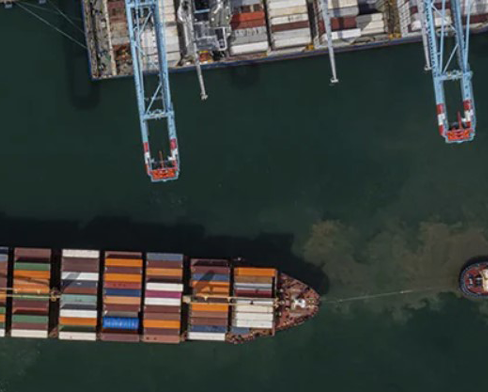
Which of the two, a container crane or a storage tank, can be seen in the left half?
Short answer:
container crane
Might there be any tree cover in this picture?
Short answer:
No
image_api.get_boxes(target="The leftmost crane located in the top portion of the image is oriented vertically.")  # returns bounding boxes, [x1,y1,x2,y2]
[124,0,182,183]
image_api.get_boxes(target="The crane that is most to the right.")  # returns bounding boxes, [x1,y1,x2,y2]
[425,0,479,144]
